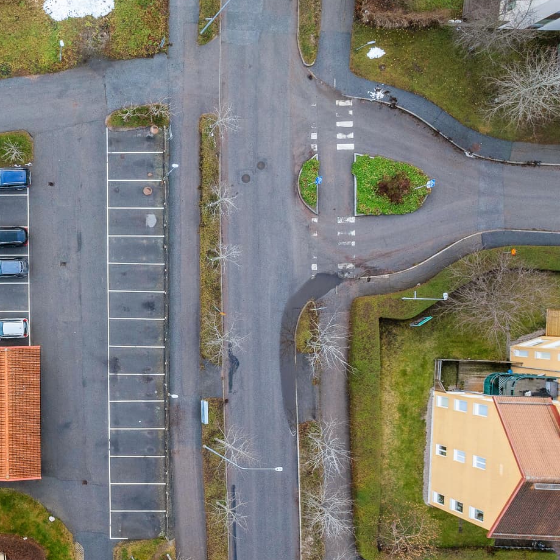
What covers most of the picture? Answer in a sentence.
For the most part, this view shows paved ground.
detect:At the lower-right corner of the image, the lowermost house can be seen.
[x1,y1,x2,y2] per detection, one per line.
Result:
[430,392,560,539]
